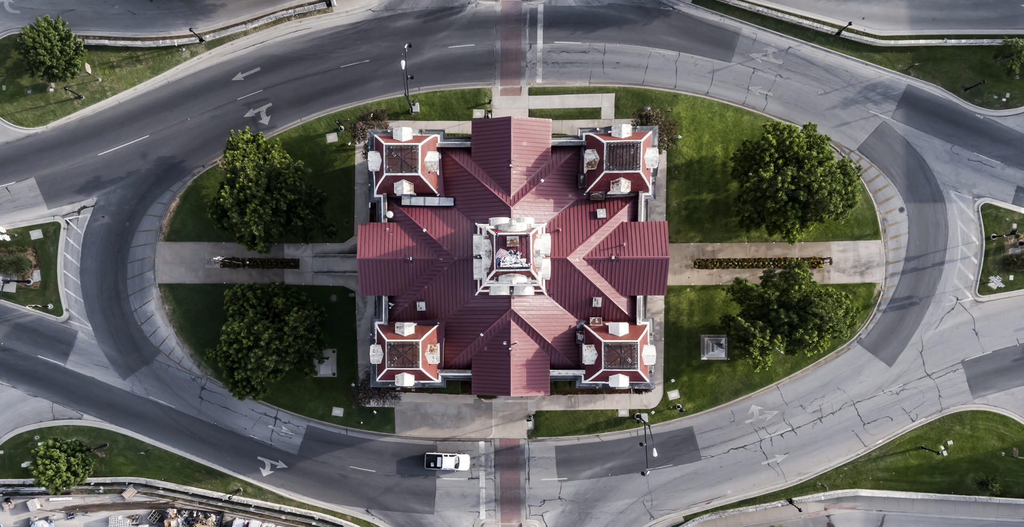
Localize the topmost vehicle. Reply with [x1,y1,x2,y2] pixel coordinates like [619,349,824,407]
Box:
[423,453,470,472]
